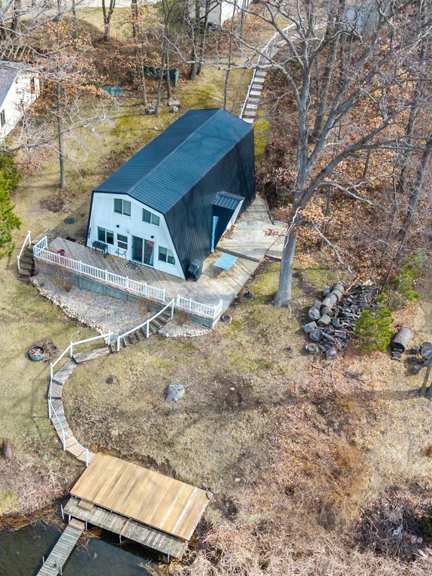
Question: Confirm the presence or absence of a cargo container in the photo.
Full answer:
No, I can see no cargo container in this picture.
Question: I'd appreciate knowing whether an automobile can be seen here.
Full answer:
No, no automobile can be seen from above.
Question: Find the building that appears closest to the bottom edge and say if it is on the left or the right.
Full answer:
The building that appears closest to the bottom edge is on the left side of the image.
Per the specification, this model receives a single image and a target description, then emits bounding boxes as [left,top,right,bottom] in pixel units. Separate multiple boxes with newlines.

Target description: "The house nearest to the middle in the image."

[81,104,266,282]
